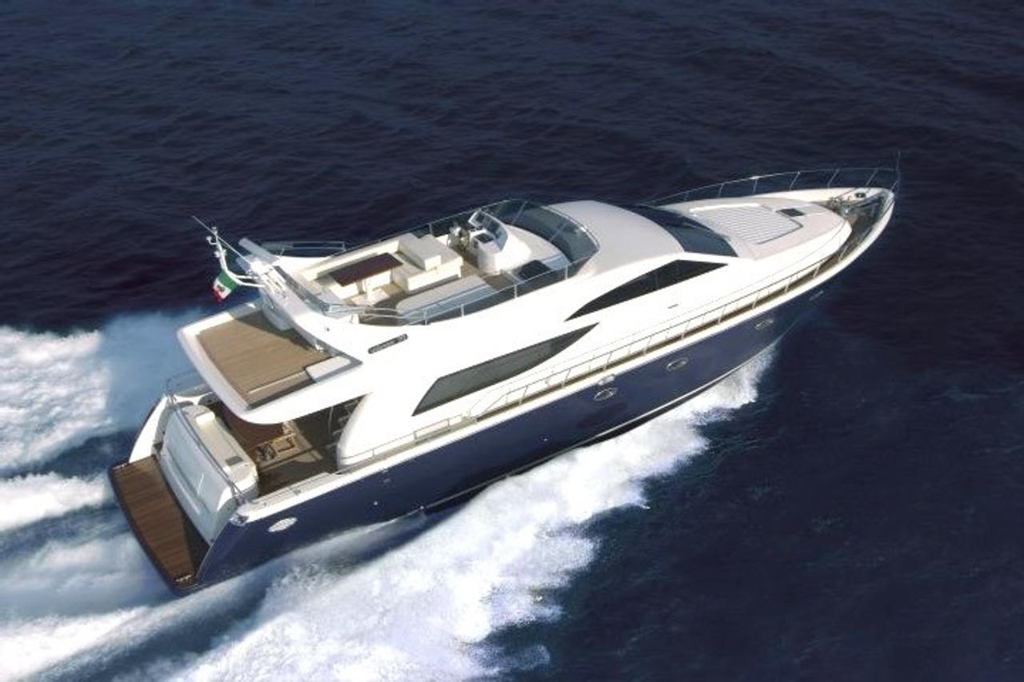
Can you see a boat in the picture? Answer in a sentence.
Yes, a boat can be made out from above.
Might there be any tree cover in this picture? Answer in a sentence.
No, there is no tree cover in the image.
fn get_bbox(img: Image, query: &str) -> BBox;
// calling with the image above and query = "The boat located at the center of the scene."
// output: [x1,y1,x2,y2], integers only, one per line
[113,150,905,600]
